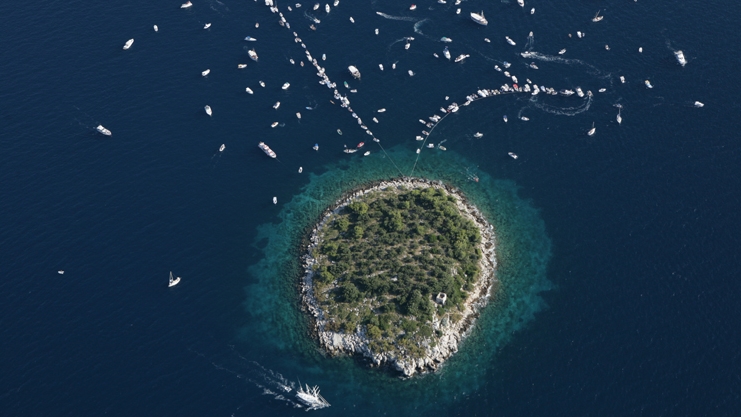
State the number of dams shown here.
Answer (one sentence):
No dams are visible.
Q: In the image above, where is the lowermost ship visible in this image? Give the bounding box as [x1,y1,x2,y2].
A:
[296,380,331,405]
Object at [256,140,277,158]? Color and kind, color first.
white ship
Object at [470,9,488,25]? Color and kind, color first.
white boat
